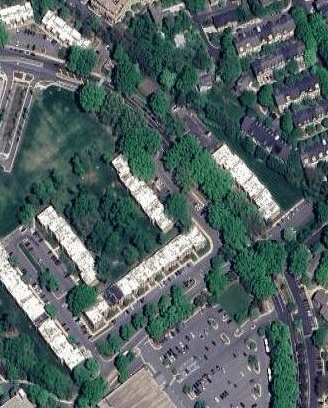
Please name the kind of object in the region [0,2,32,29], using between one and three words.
building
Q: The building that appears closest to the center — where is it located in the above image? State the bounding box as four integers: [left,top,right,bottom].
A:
[114,153,176,238]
